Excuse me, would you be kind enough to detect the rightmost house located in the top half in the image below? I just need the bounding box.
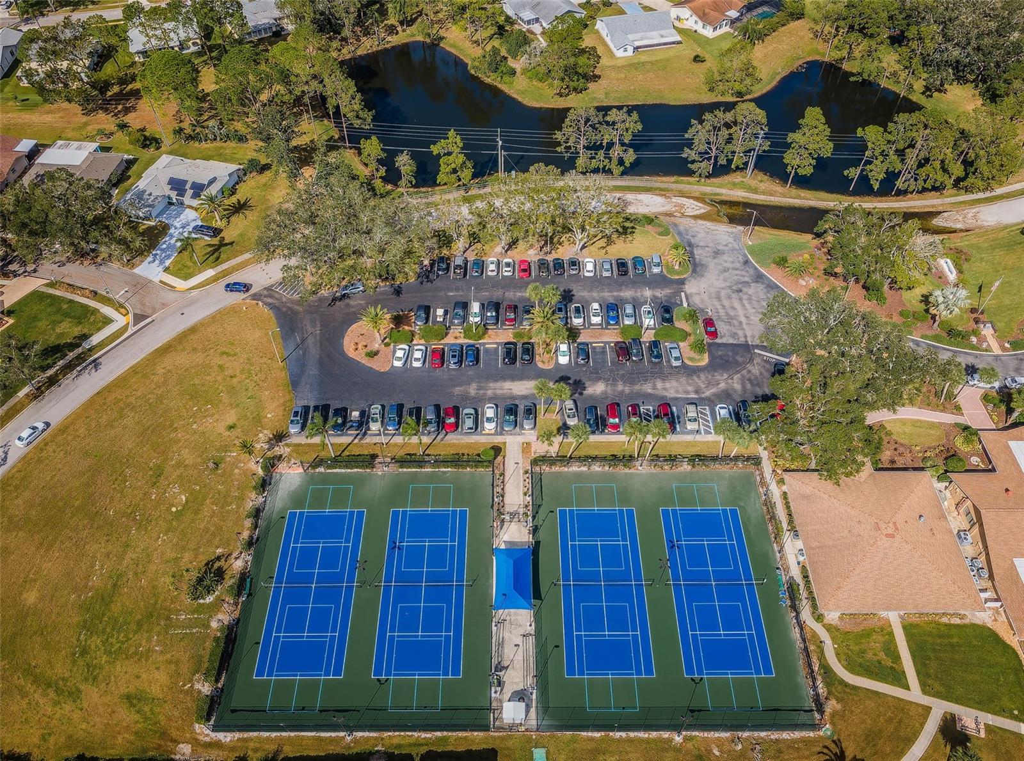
[671,0,746,37]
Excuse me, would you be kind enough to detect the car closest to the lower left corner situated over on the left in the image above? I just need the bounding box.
[15,422,49,448]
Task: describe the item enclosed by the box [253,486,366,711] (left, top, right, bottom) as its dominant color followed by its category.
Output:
blue tennis court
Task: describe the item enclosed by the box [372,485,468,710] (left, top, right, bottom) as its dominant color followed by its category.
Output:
blue tennis court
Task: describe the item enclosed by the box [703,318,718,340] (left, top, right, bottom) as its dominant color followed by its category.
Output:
red car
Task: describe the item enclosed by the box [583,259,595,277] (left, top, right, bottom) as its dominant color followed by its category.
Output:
white vehicle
